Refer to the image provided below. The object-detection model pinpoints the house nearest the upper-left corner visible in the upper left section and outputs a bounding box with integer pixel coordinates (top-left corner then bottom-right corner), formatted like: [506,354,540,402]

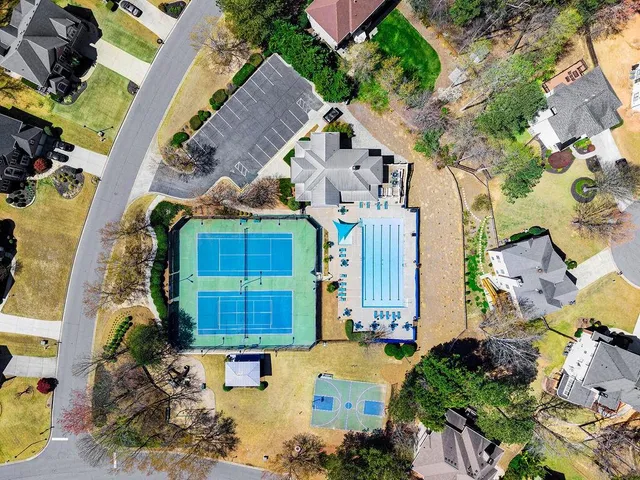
[0,0,90,92]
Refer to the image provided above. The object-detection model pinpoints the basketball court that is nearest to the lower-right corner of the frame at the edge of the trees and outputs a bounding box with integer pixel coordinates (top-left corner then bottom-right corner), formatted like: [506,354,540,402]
[311,378,387,434]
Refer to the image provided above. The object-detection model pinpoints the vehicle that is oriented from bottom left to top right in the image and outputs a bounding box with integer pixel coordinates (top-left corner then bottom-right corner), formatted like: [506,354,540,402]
[324,107,341,122]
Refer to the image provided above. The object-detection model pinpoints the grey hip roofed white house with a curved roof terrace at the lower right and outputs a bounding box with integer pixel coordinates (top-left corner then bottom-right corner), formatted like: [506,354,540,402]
[549,329,640,421]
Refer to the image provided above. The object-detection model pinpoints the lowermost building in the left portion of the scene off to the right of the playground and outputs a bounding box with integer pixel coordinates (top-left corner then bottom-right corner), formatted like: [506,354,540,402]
[226,358,262,386]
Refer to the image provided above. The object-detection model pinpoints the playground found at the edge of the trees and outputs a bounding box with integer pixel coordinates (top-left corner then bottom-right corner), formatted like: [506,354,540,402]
[157,355,216,424]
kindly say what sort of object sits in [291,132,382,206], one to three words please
house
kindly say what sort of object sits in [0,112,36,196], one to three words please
house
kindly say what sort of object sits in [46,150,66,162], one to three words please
vehicle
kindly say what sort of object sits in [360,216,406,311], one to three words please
swimming pool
